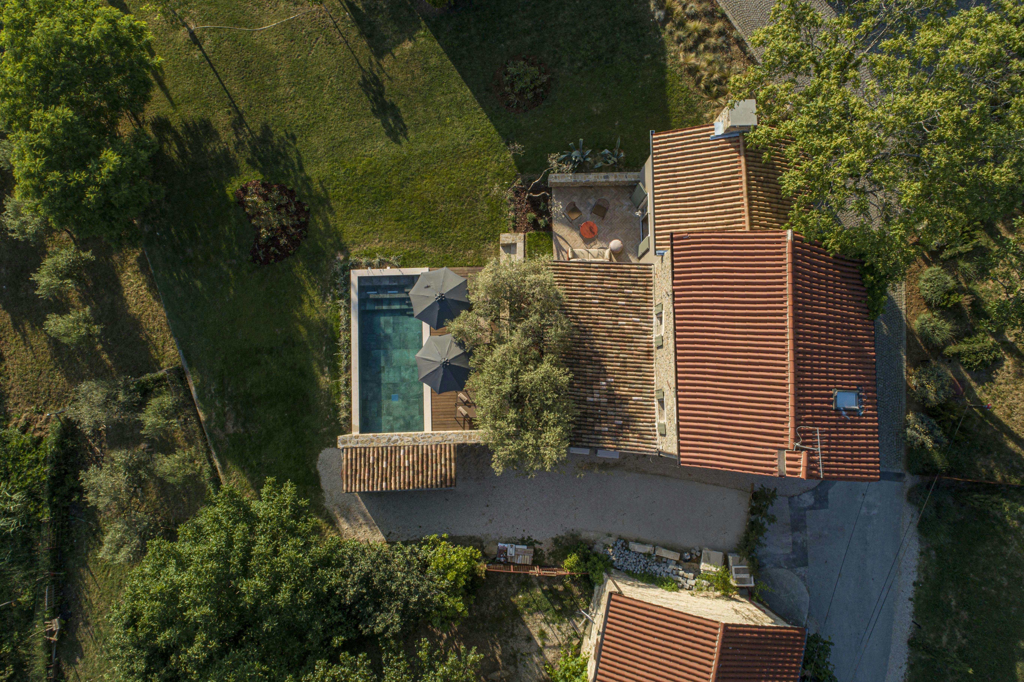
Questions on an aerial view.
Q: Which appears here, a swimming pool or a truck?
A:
swimming pool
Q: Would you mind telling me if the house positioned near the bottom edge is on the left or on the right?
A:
right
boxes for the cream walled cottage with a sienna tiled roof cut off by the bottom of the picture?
[586,572,809,682]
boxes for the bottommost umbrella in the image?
[414,330,476,393]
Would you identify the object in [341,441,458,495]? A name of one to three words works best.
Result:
shed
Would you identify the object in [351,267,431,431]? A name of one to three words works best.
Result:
swimming pool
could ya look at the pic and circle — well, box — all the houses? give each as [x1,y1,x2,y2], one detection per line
[586,572,809,682]
[651,228,882,483]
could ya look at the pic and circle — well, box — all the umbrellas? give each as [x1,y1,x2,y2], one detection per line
[409,266,472,329]
[414,330,476,393]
